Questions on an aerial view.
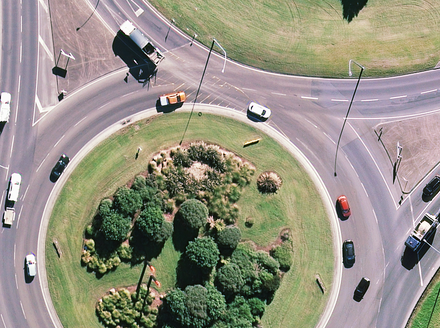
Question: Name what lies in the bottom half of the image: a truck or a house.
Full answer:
It is a truck that can be seen in the bottom half of the image.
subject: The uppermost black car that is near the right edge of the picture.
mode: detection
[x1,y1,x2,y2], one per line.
[424,176,440,198]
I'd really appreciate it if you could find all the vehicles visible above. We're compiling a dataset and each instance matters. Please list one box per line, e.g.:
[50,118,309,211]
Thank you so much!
[424,176,440,198]
[8,174,20,202]
[0,92,12,122]
[120,19,164,65]
[406,214,438,252]
[26,254,36,276]
[249,102,272,118]
[160,92,186,106]
[340,195,352,217]
[344,241,355,265]
[52,156,69,180]
[356,277,371,299]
